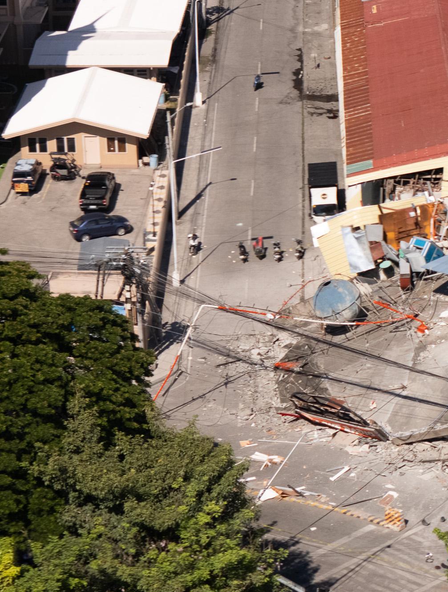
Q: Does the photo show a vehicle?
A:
Yes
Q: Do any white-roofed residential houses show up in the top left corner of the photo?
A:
Yes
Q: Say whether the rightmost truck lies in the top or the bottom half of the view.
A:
top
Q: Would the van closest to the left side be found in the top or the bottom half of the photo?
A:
top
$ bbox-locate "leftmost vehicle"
[5,156,48,190]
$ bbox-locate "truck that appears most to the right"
[306,175,339,225]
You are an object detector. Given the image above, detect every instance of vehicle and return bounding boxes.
[293,240,306,260]
[238,243,251,264]
[48,147,77,181]
[252,240,266,261]
[67,206,135,234]
[271,244,284,264]
[186,236,199,256]
[251,73,262,90]
[5,156,48,190]
[306,175,339,225]
[75,168,122,205]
